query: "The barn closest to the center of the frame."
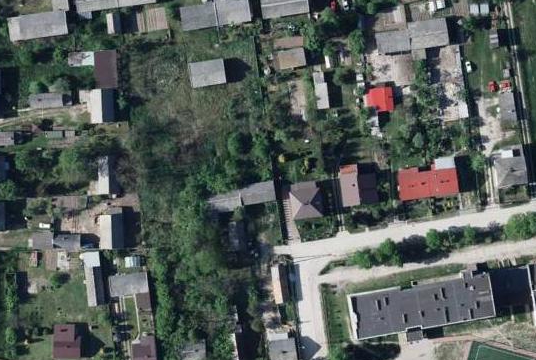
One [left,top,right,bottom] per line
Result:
[242,181,276,205]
